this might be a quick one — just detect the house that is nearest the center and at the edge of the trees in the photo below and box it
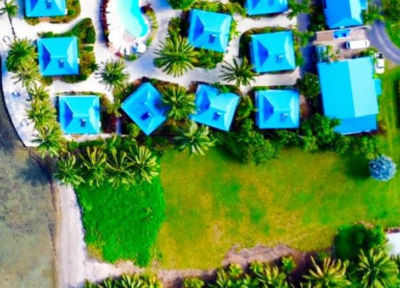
[186,84,239,127]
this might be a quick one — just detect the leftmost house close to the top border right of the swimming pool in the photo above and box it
[183,10,232,52]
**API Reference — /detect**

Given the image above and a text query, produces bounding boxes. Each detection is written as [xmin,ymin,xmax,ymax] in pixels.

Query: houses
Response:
[246,31,294,72]
[21,0,65,17]
[253,90,298,128]
[383,229,400,260]
[56,95,100,133]
[237,0,286,15]
[183,10,232,52]
[117,83,167,134]
[186,84,239,127]
[34,37,79,75]
[320,0,366,28]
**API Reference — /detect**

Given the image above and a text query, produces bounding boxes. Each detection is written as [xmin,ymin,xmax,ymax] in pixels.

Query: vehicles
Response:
[343,39,366,49]
[371,54,384,75]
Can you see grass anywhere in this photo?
Yes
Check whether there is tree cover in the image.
Yes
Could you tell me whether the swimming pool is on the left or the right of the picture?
left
